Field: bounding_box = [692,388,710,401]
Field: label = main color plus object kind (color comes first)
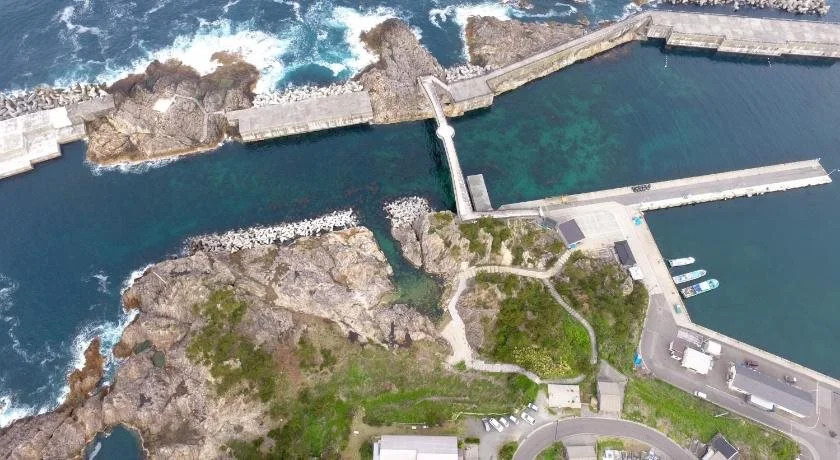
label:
white vehicle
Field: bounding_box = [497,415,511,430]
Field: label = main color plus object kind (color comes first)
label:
white vehicle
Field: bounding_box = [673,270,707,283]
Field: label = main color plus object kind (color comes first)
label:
white boat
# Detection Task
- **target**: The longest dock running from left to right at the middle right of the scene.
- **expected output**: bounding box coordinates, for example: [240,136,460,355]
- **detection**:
[501,159,831,215]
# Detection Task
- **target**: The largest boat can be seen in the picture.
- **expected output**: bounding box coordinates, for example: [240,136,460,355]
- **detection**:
[680,280,720,298]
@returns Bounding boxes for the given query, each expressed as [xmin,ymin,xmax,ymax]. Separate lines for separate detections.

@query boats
[673,270,707,283]
[668,257,696,266]
[680,280,720,298]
